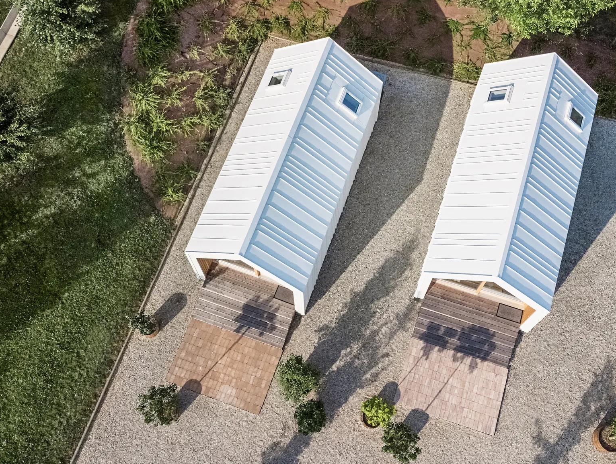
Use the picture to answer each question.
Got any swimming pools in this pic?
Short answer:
No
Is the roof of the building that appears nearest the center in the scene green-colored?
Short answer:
No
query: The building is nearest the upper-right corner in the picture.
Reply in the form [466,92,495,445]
[414,49,598,333]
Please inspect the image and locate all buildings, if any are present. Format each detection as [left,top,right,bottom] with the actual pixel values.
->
[414,49,598,333]
[184,36,382,317]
